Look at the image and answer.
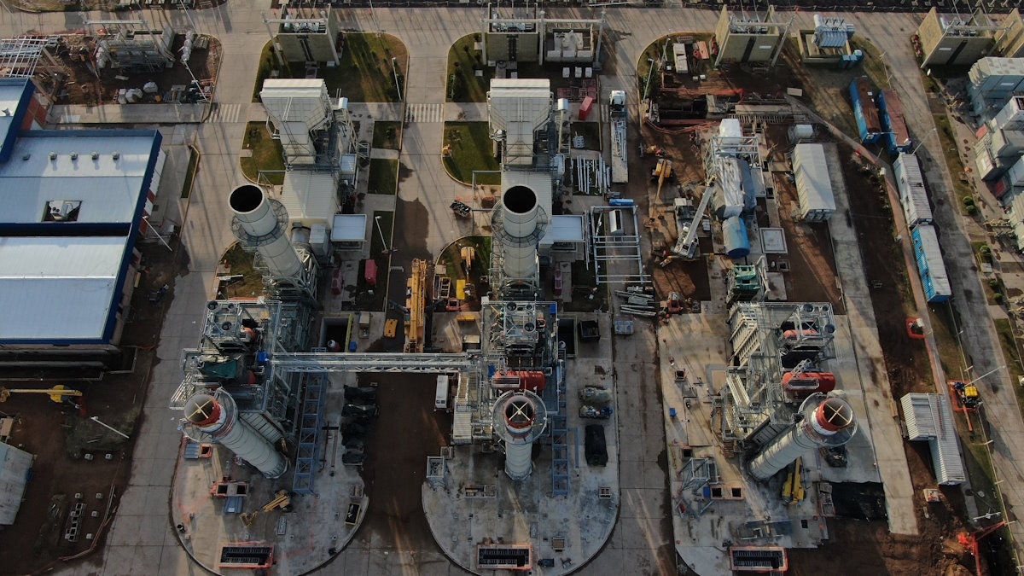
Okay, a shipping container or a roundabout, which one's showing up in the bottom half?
shipping container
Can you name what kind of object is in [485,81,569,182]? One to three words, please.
house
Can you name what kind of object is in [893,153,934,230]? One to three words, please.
shipping container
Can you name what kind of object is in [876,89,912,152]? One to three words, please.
shipping container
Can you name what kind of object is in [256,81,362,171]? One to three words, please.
house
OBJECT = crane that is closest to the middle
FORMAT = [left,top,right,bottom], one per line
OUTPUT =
[391,251,447,353]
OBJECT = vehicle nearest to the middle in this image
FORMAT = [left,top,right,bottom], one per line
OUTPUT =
[458,236,477,289]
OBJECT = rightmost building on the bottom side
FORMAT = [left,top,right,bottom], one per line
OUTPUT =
[703,292,858,450]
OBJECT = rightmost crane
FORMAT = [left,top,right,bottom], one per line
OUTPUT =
[659,164,722,263]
